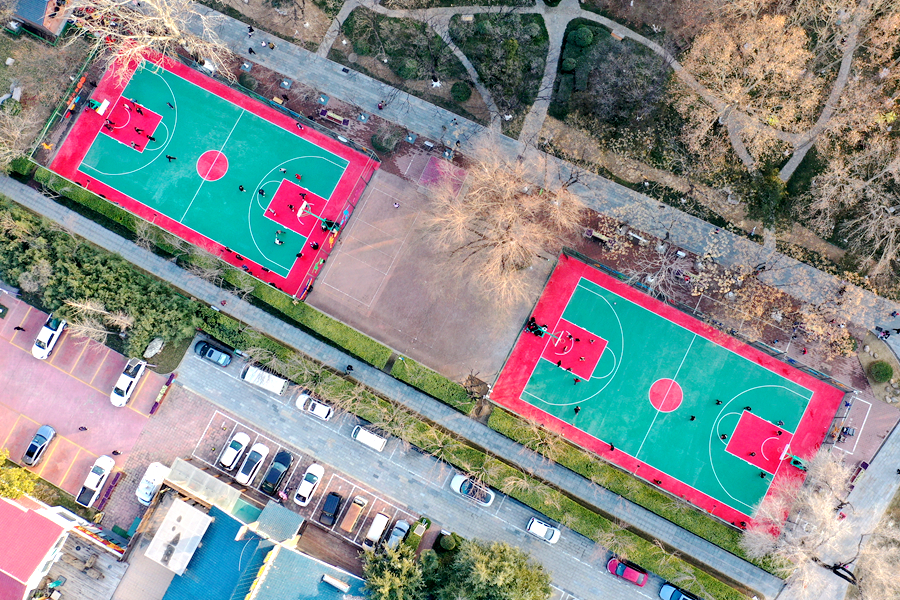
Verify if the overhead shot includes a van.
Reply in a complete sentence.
Yes, looking at the shot, I can spot a van.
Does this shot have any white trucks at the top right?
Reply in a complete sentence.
No, I can find no white truck at the top right.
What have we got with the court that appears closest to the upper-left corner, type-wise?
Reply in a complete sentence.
I'd say the court that appears closest to the upper-left corner is a basketball court.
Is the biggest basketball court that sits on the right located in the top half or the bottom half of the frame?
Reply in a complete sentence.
The biggest basketball court that sits on the right sits in the bottom half of the picture.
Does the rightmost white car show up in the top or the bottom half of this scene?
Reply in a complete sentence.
You can find the rightmost white car in the bottom half.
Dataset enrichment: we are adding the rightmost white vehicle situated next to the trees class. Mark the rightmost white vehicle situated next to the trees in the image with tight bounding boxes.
[522,513,563,544]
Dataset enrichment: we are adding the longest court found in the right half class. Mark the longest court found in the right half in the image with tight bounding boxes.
[490,254,846,548]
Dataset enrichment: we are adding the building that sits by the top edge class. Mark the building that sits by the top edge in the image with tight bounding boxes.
[10,0,98,49]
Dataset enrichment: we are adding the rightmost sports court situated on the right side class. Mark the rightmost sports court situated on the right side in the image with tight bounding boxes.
[834,397,872,454]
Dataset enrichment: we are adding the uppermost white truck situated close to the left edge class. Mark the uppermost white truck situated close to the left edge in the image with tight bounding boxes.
[34,314,69,359]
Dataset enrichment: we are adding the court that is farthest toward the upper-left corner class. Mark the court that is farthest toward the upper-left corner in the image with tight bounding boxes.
[50,38,379,302]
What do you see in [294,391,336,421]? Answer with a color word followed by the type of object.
white car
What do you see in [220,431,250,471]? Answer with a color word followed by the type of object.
white car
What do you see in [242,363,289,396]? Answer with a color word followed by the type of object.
white van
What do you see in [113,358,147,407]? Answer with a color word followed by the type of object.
white truck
